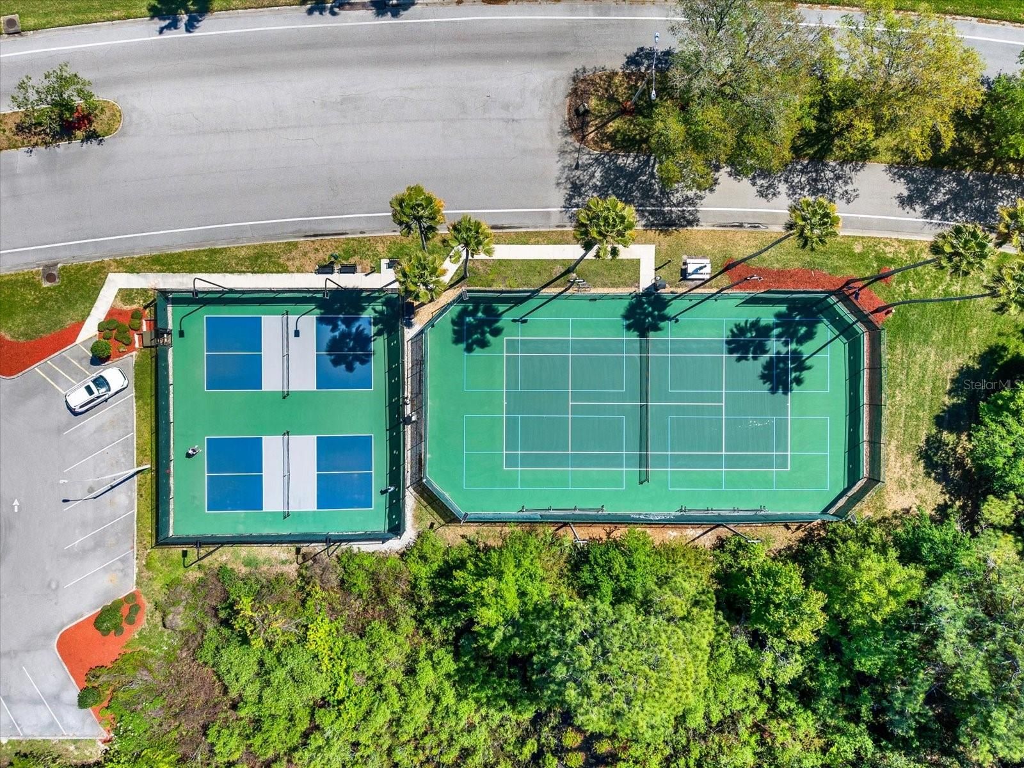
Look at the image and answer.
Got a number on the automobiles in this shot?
1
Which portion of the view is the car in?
left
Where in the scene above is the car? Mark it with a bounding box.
[65,370,128,413]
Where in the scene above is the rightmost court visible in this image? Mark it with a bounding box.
[427,295,865,513]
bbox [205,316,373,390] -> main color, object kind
blue sports court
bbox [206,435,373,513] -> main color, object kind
blue sports court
